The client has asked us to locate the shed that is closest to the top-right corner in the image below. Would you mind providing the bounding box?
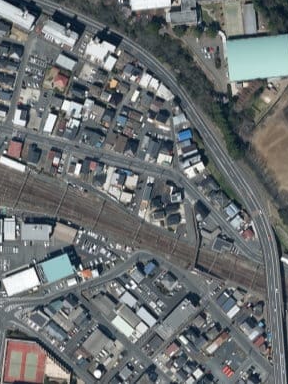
[242,3,256,31]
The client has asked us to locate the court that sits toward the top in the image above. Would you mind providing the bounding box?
[222,2,243,32]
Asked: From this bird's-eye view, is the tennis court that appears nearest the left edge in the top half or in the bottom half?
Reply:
bottom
